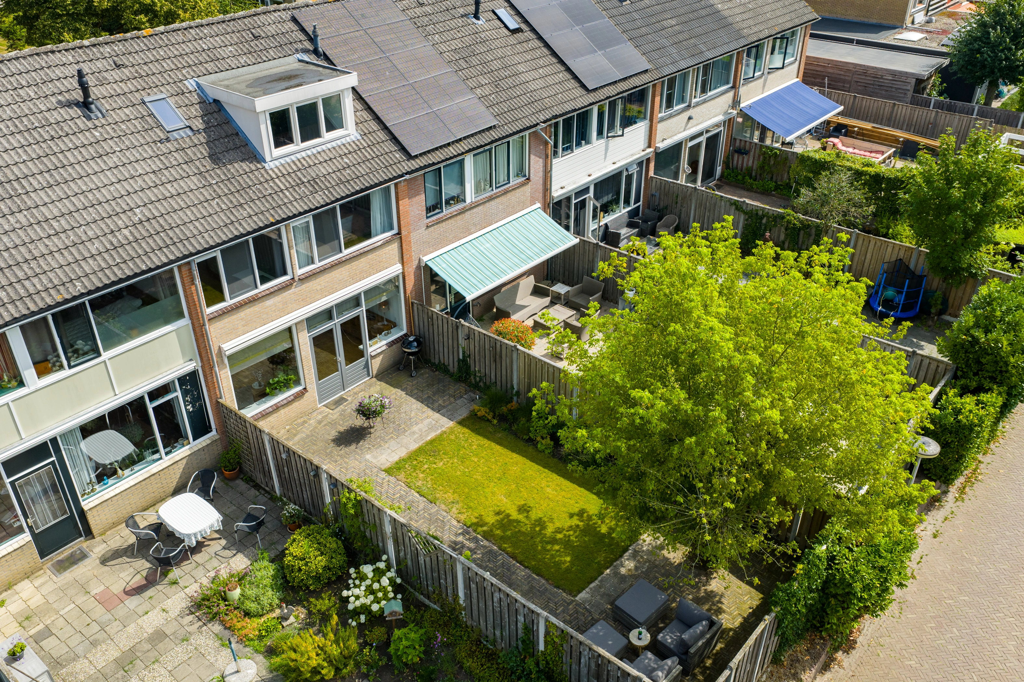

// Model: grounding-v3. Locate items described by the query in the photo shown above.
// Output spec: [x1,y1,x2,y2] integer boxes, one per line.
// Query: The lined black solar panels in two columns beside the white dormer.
[294,0,501,157]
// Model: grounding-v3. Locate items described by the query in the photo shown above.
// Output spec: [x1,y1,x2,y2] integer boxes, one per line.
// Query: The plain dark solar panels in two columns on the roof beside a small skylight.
[510,0,653,91]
